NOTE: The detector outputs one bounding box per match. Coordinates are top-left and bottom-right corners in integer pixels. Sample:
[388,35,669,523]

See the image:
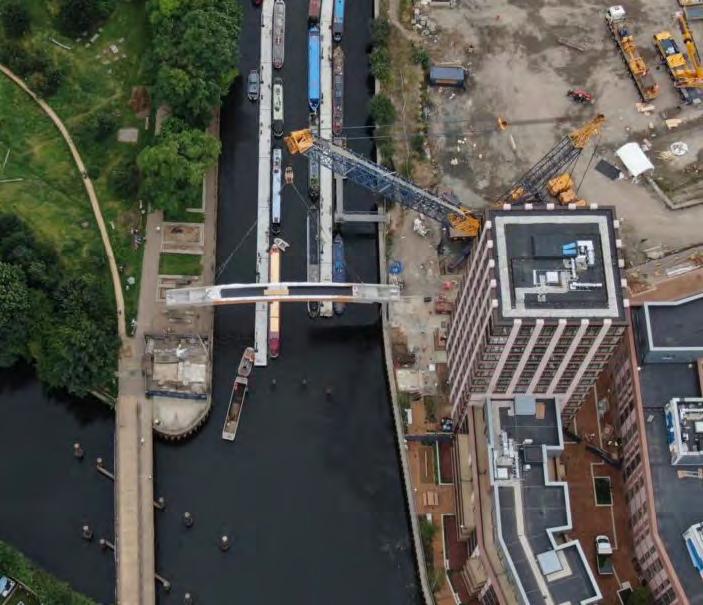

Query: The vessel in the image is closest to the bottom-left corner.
[220,374,250,442]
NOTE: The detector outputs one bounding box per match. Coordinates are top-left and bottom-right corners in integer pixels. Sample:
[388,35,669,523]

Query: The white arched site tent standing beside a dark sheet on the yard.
[615,139,655,179]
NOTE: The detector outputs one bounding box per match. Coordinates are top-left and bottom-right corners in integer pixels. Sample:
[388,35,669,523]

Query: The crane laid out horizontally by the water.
[277,113,608,265]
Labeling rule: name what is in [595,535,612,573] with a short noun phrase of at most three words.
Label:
vehicle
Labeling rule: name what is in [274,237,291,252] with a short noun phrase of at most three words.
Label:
boat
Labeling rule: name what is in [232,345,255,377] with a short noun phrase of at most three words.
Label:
boat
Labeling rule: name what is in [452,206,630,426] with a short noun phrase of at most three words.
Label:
building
